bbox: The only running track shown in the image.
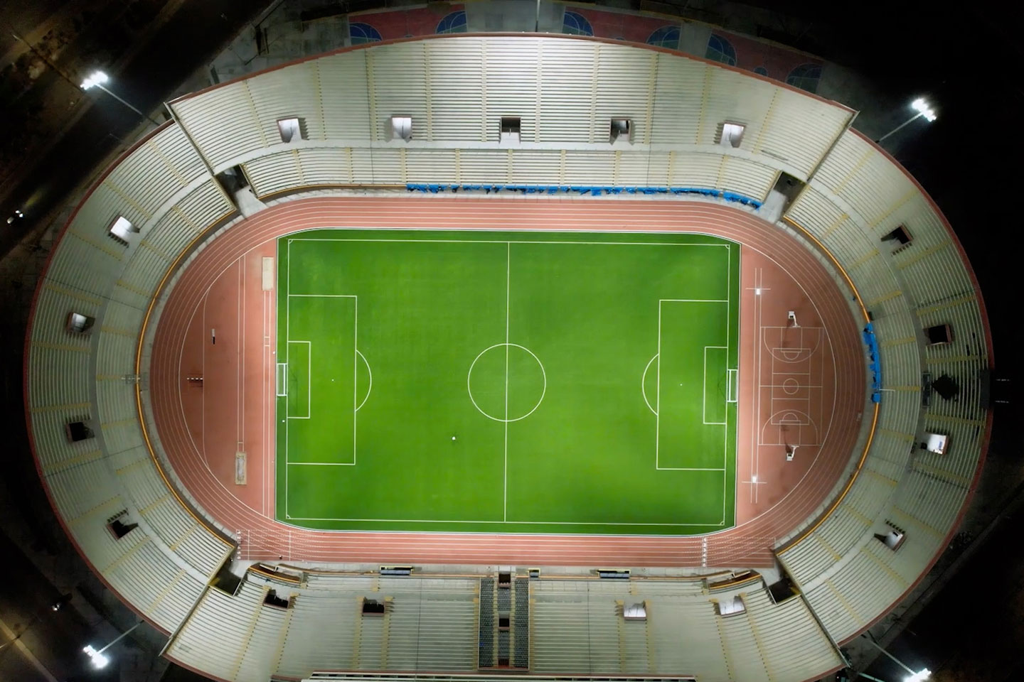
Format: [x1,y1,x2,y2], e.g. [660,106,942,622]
[149,199,867,568]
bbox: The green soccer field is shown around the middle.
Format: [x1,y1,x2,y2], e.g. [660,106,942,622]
[275,232,740,534]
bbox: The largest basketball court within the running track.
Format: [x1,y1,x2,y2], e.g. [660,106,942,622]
[759,327,823,446]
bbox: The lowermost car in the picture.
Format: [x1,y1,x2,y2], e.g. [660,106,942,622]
[51,595,70,611]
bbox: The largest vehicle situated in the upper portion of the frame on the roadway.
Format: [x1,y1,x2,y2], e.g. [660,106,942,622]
[2,208,21,225]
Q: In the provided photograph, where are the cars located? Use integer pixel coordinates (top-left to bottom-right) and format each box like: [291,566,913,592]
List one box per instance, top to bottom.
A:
[2,208,21,225]
[51,595,70,611]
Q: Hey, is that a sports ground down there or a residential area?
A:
sports ground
